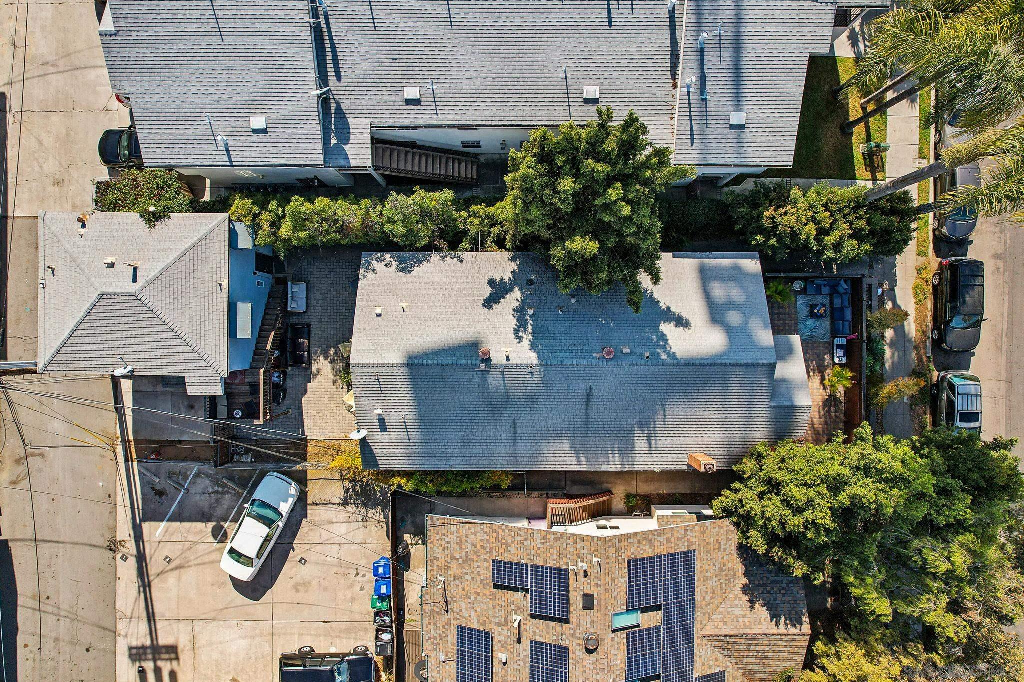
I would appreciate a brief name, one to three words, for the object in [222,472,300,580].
car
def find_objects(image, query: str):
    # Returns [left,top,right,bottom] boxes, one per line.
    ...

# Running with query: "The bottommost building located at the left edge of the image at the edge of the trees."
[36,210,268,396]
